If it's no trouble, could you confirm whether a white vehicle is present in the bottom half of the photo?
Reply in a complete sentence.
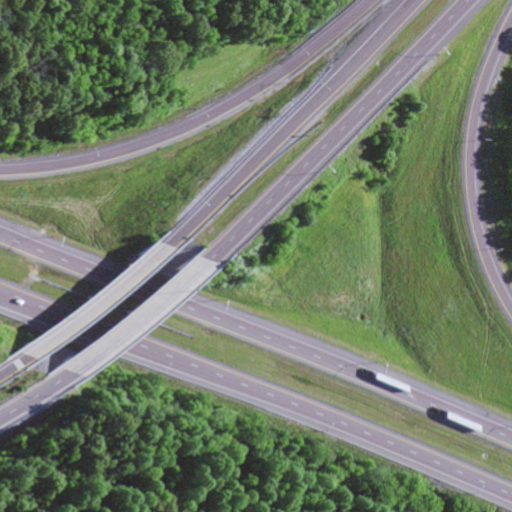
Yes, a white vehicle shows up in the bottom half of the photo.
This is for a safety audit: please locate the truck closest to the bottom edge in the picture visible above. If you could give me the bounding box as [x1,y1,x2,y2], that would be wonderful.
[436,408,482,431]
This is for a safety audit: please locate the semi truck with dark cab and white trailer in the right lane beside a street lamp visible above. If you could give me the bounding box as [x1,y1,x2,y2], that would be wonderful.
[364,369,410,392]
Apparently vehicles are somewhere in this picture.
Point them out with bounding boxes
[364,369,410,392]
[15,298,25,305]
[436,408,482,431]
